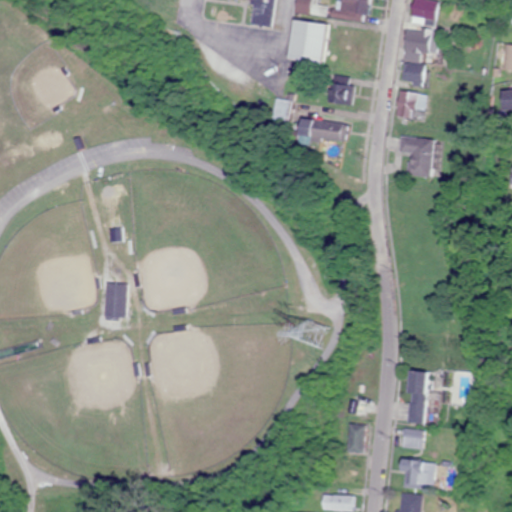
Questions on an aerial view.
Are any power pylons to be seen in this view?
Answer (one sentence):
Yes, the image includes a power pylon.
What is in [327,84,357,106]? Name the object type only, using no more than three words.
house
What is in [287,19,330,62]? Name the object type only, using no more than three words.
building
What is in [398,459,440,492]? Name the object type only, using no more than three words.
house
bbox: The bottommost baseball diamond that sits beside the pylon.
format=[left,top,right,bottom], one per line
[146,322,292,476]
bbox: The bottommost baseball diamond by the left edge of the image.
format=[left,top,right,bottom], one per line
[0,336,147,480]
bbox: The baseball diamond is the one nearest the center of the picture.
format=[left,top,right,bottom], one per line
[130,168,288,314]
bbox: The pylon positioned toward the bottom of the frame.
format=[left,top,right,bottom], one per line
[280,320,330,350]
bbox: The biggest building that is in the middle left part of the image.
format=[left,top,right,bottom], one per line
[106,282,128,321]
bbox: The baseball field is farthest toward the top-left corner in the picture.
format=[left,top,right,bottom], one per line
[10,41,79,128]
